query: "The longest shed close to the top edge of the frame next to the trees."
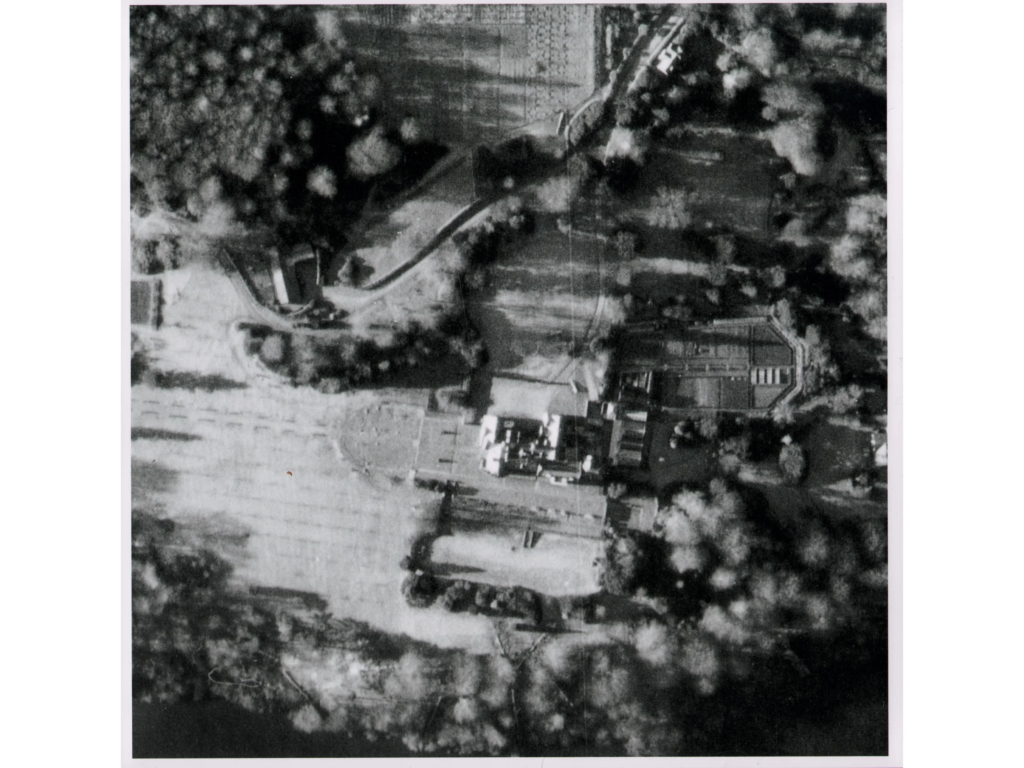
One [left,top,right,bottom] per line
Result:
[647,16,685,63]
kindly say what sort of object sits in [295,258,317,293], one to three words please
shed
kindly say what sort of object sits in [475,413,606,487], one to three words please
house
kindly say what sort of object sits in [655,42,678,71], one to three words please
house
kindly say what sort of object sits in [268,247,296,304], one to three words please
barn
